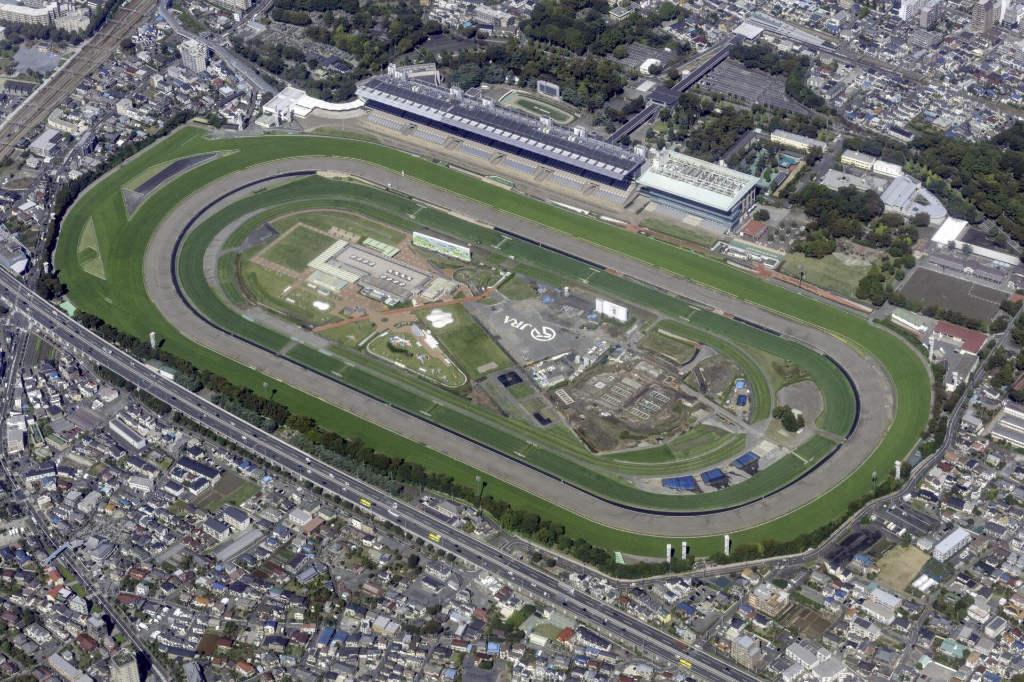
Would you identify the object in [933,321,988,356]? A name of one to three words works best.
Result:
building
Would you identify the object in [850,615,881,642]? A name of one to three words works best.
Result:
building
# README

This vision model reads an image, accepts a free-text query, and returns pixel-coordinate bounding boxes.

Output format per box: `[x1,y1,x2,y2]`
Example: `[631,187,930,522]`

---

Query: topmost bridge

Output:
[156,0,279,99]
